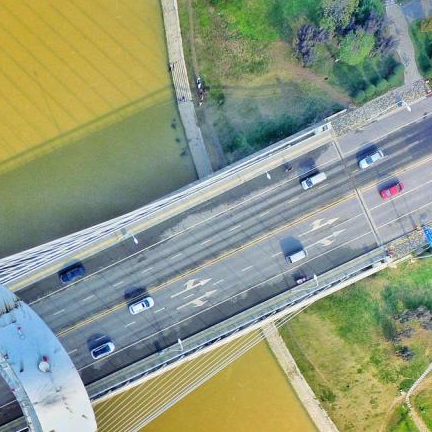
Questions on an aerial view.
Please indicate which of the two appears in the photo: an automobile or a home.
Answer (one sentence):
The image shows an automobile.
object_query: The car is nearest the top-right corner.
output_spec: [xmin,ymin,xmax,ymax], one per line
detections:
[357,150,385,169]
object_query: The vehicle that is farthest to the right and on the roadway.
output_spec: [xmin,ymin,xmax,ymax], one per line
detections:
[377,181,404,199]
